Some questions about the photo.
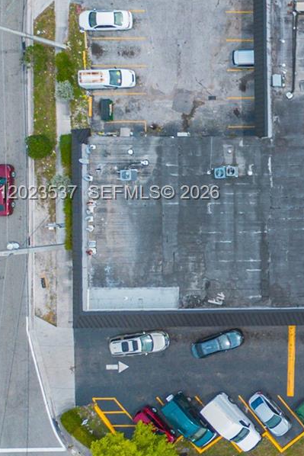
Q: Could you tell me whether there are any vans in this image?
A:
Yes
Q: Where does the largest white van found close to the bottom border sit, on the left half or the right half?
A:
right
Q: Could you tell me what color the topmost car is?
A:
white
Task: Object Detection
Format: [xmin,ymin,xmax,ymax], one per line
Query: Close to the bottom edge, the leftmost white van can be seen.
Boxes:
[197,393,261,452]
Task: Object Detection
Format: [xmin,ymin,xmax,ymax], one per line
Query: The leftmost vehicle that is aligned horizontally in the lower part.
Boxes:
[107,328,173,357]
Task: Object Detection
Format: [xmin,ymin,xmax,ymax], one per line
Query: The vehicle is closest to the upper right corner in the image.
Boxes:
[230,48,255,69]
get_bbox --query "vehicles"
[130,401,182,450]
[289,395,304,424]
[230,48,255,69]
[80,7,136,32]
[75,66,138,91]
[246,389,296,438]
[107,328,173,357]
[197,393,261,452]
[156,392,218,450]
[190,327,247,361]
[0,165,18,215]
